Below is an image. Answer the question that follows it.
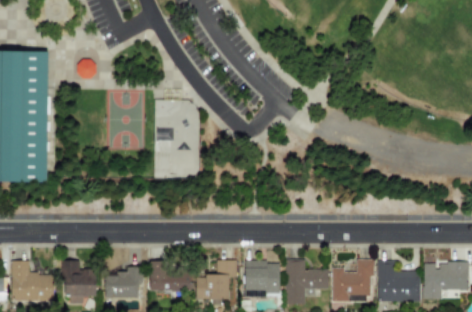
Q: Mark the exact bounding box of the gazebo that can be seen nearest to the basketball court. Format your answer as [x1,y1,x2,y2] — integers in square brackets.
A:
[75,57,98,80]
